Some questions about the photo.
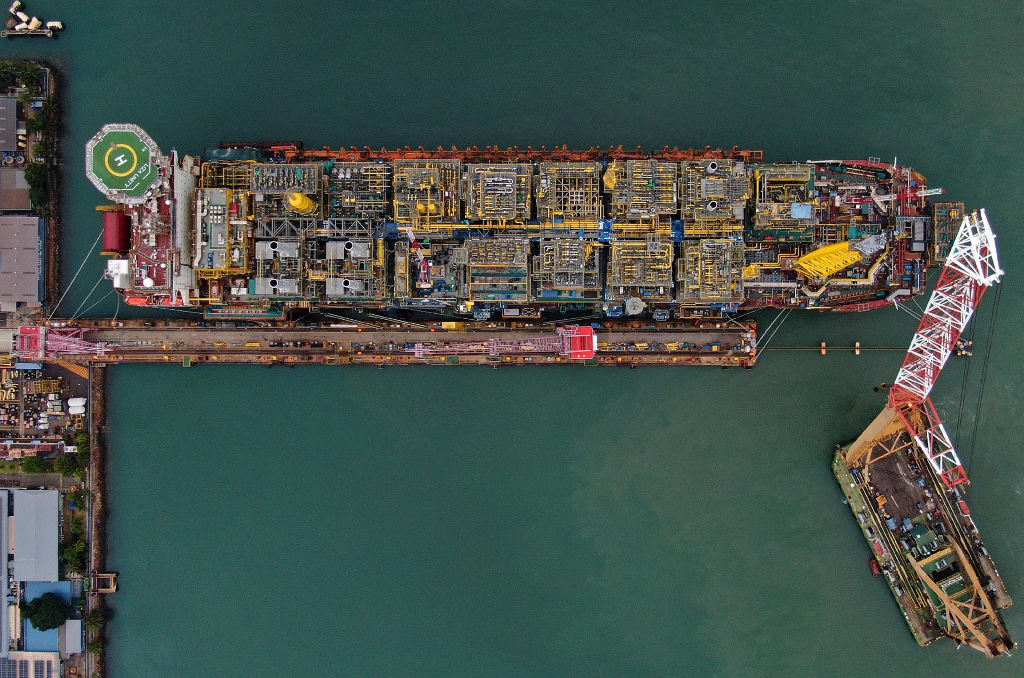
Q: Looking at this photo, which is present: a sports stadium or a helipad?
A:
helipad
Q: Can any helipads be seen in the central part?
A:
No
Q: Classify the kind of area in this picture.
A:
port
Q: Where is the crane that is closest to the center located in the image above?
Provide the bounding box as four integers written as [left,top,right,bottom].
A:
[402,323,599,358]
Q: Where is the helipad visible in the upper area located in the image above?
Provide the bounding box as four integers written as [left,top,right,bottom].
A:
[85,123,163,203]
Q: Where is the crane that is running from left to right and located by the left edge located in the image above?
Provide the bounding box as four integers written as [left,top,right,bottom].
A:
[16,323,111,359]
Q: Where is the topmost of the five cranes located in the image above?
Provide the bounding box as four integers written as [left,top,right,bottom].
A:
[839,188,946,206]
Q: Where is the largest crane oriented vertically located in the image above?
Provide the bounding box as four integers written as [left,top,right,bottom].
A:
[844,210,1020,660]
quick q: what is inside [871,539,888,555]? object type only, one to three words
boat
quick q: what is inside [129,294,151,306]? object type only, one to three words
boat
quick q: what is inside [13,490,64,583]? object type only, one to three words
building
